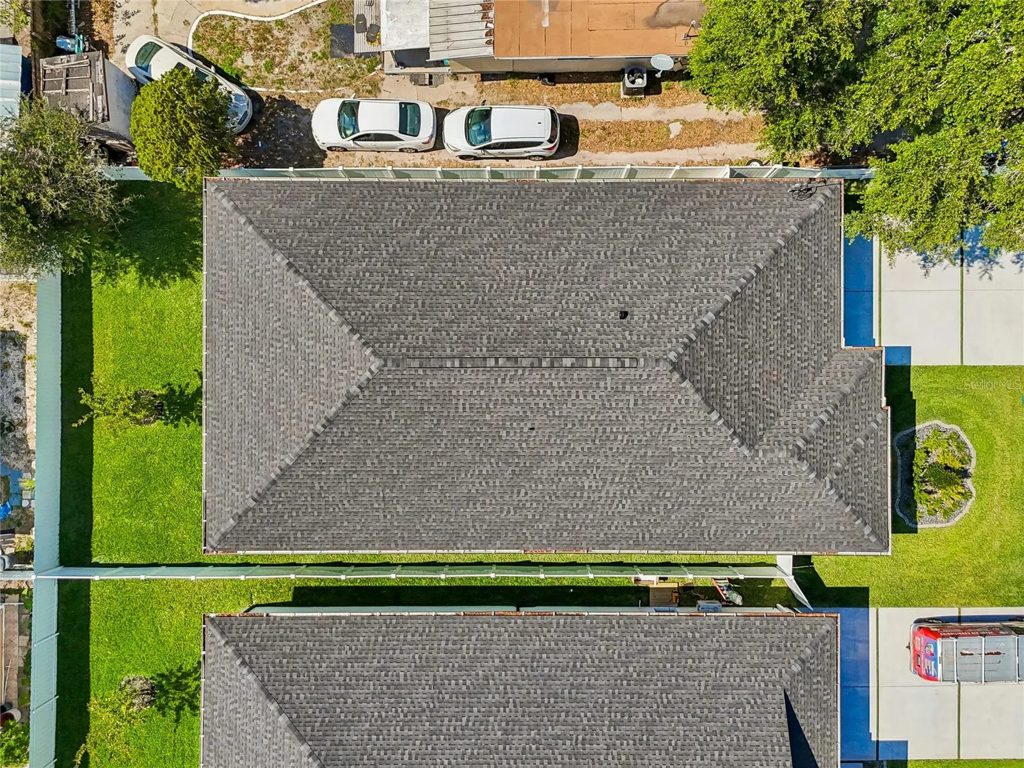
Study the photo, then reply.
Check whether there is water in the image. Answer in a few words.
No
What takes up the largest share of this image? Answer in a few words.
buildings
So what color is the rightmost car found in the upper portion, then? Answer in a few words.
white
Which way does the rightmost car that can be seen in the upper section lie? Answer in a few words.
horizontally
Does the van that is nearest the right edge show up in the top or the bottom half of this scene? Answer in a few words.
bottom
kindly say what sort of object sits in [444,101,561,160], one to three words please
car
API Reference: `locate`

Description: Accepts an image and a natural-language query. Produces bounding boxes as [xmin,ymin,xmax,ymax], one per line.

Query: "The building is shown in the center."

[202,178,891,555]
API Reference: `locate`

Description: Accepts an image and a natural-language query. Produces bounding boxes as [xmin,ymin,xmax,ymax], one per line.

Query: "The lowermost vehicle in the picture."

[900,619,1024,686]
